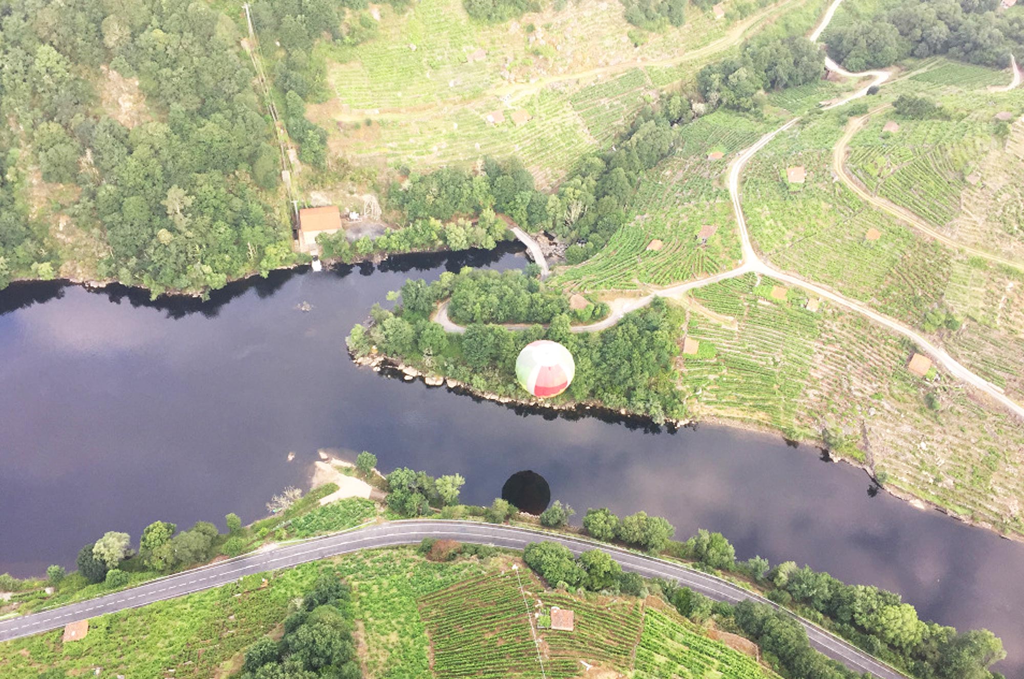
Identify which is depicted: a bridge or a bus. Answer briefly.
bridge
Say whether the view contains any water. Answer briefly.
Yes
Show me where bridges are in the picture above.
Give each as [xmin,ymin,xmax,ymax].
[510,225,553,281]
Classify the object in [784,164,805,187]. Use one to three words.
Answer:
shed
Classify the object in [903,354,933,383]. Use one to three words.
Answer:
shed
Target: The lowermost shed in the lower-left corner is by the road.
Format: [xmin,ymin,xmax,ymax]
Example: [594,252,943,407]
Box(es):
[62,622,92,642]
